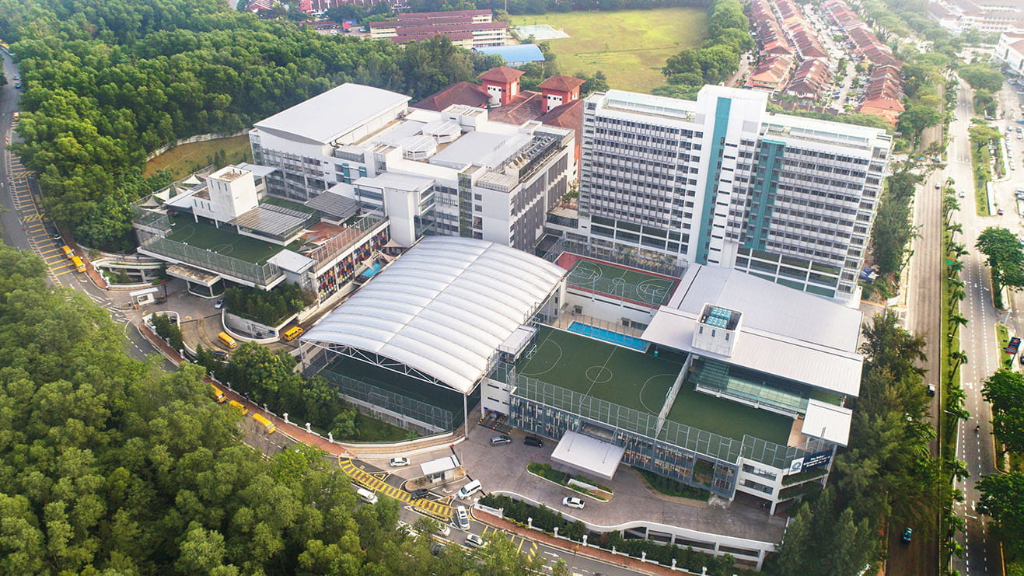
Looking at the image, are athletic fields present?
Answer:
Yes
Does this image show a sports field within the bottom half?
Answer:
Yes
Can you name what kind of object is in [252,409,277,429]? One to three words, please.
vehicle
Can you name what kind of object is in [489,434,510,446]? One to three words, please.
vehicle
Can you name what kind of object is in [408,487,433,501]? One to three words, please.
car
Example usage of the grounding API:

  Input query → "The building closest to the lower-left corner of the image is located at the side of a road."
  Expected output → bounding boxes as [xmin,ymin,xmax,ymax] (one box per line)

[122,286,162,306]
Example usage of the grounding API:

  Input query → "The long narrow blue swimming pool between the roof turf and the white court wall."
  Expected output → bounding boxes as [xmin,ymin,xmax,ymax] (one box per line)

[542,303,654,352]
